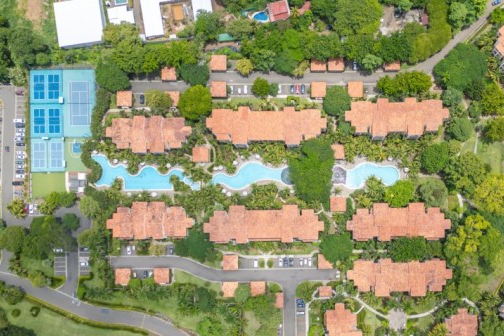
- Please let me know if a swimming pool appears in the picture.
Yes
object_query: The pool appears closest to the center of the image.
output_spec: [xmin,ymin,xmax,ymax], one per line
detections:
[213,161,296,190]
